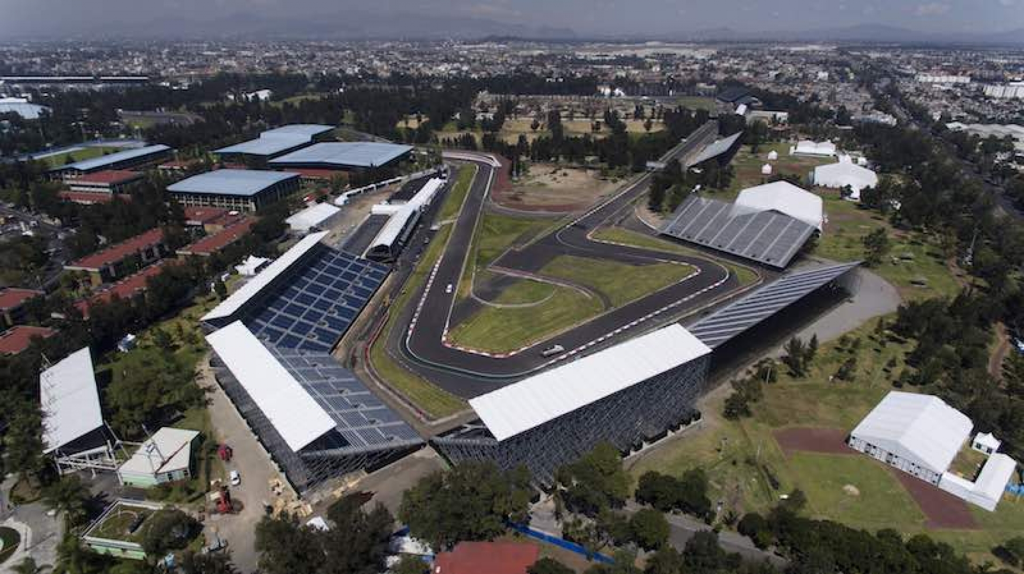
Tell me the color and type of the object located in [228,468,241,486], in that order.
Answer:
white vehicle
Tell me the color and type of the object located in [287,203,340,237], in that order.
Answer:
white tent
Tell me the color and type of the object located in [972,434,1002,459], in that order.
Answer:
white tent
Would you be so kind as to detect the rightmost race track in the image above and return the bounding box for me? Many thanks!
[410,118,727,375]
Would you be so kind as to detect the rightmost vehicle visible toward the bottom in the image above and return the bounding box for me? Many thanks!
[541,341,564,357]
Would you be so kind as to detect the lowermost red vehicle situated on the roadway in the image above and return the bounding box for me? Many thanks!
[213,486,233,513]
